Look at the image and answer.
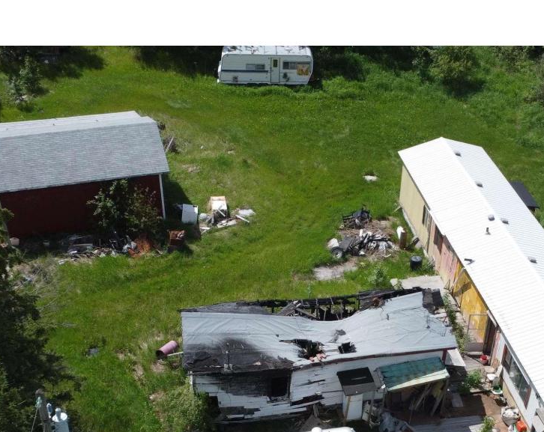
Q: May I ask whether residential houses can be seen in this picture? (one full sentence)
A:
Yes, looking at the shot, I can spot a residential house.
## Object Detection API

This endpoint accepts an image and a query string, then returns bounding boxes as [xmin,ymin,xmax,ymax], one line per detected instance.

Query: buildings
[0,111,171,242]
[398,137,544,432]
[181,287,457,421]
